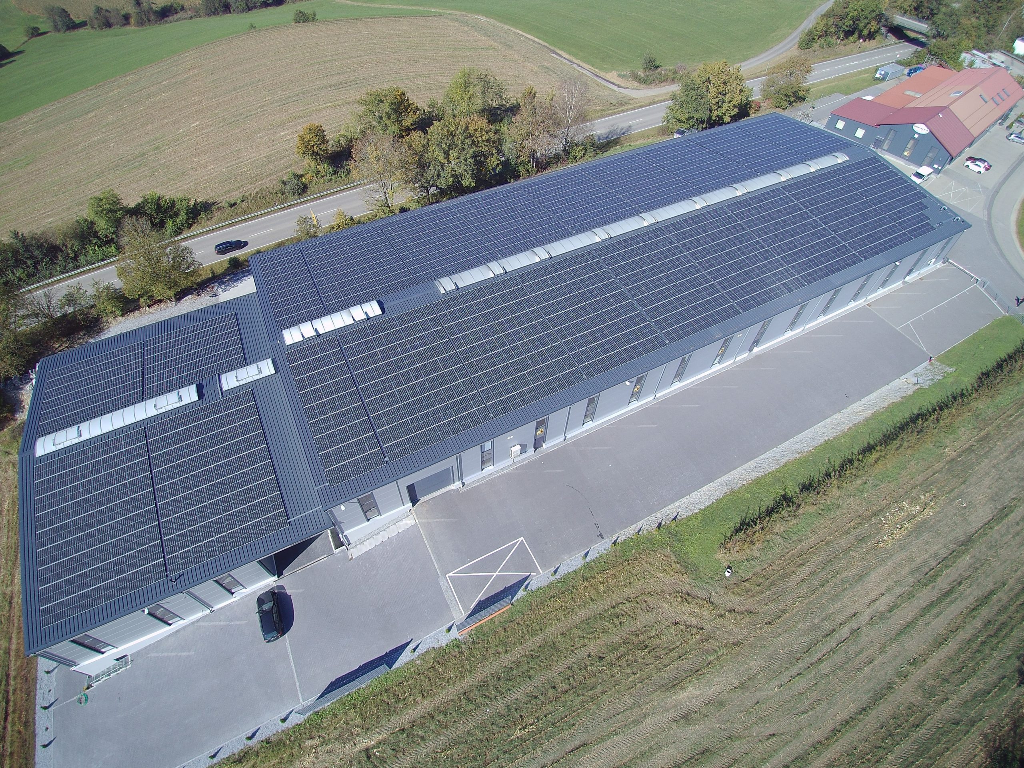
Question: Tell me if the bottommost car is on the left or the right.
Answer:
left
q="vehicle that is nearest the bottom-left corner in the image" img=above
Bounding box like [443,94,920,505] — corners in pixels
[254,586,282,643]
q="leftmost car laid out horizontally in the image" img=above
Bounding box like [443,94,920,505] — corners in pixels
[211,238,247,256]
